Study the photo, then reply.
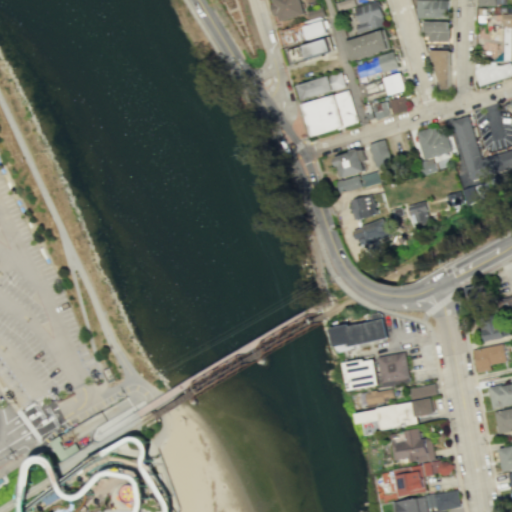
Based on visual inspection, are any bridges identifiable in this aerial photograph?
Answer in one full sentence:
Yes, you can see a bridge in this photo.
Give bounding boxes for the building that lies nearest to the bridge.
[329,319,387,353]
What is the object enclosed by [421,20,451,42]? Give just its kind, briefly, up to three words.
house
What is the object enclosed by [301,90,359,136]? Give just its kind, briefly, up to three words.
building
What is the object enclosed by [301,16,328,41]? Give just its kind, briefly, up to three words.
building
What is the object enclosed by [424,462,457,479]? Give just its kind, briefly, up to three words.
house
